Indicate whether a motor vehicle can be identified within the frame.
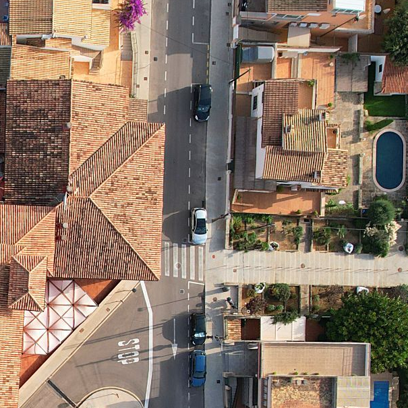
Yes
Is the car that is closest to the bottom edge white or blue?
blue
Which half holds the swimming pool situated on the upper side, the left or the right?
right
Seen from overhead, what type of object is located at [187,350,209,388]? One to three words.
car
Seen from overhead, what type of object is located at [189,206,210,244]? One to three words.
car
